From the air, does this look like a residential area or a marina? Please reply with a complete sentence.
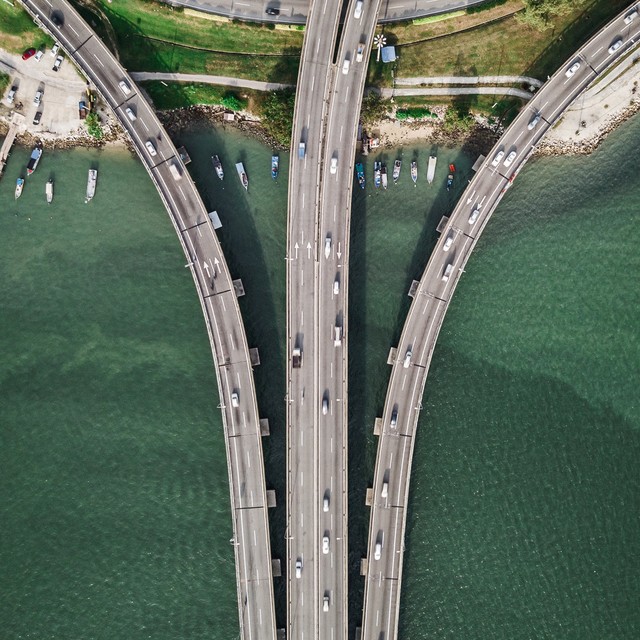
The area seen from above is a marina.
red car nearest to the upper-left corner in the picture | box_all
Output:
[21,47,38,61]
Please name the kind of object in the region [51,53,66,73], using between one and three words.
vehicle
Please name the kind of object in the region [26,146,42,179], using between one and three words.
boat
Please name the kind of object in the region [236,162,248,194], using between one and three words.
boat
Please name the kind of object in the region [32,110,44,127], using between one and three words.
vehicle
